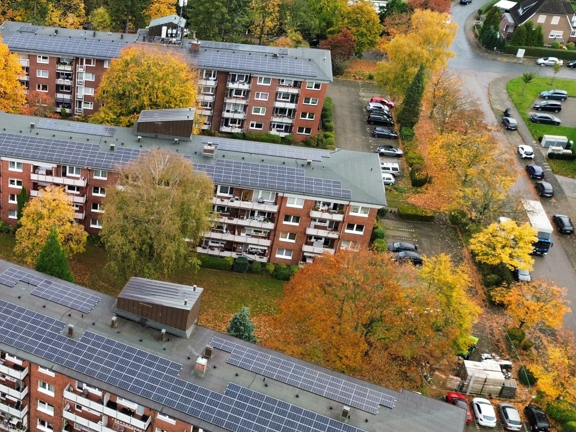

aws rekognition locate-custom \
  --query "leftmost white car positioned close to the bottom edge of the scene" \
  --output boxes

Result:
[469,399,500,431]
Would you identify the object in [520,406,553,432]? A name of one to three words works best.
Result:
car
